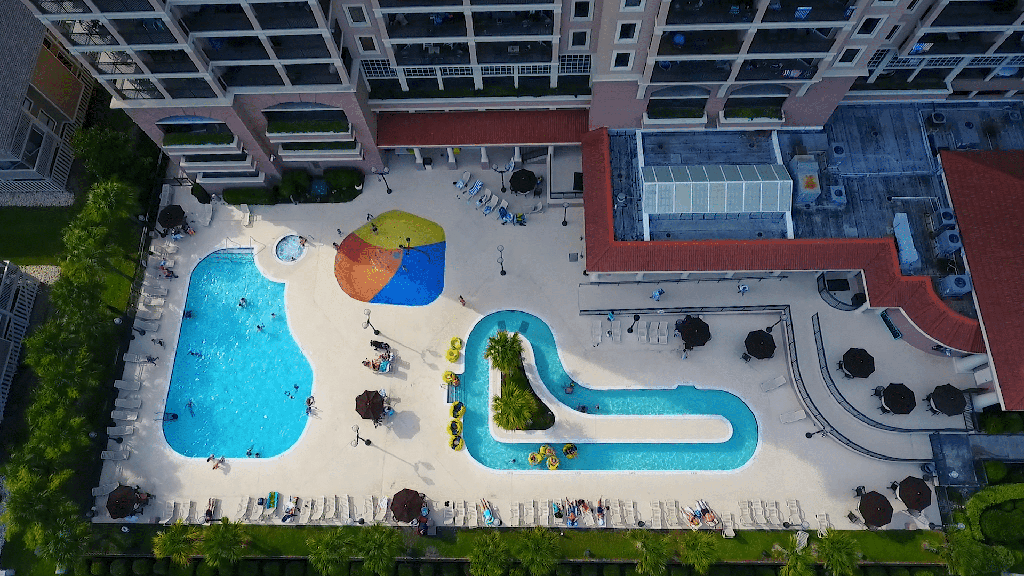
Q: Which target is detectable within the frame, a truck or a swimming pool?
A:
swimming pool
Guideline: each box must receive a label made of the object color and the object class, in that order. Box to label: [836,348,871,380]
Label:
black umbrella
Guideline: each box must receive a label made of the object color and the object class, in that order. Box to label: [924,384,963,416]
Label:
black umbrella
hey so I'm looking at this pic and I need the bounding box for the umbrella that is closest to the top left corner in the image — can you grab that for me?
[160,205,191,230]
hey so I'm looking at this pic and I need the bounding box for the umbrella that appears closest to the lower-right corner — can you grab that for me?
[891,476,929,512]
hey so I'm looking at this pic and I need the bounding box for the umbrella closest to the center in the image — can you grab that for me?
[510,172,537,199]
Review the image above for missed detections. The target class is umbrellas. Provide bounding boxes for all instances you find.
[743,331,775,362]
[678,319,710,349]
[836,348,871,380]
[891,476,929,512]
[877,384,913,415]
[112,484,148,519]
[160,205,191,230]
[510,172,537,199]
[392,488,424,522]
[853,492,889,528]
[358,389,388,420]
[924,384,963,416]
